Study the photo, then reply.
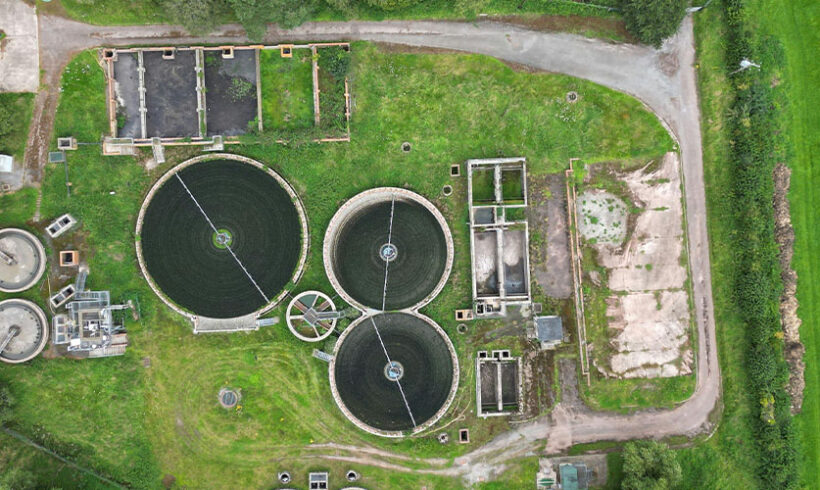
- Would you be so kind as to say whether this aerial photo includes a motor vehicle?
No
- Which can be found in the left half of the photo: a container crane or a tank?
tank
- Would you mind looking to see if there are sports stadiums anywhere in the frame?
No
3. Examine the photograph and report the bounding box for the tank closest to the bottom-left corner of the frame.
[0,297,53,363]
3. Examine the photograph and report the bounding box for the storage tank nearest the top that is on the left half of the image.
[0,228,51,293]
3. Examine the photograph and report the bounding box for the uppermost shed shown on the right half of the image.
[533,315,563,351]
